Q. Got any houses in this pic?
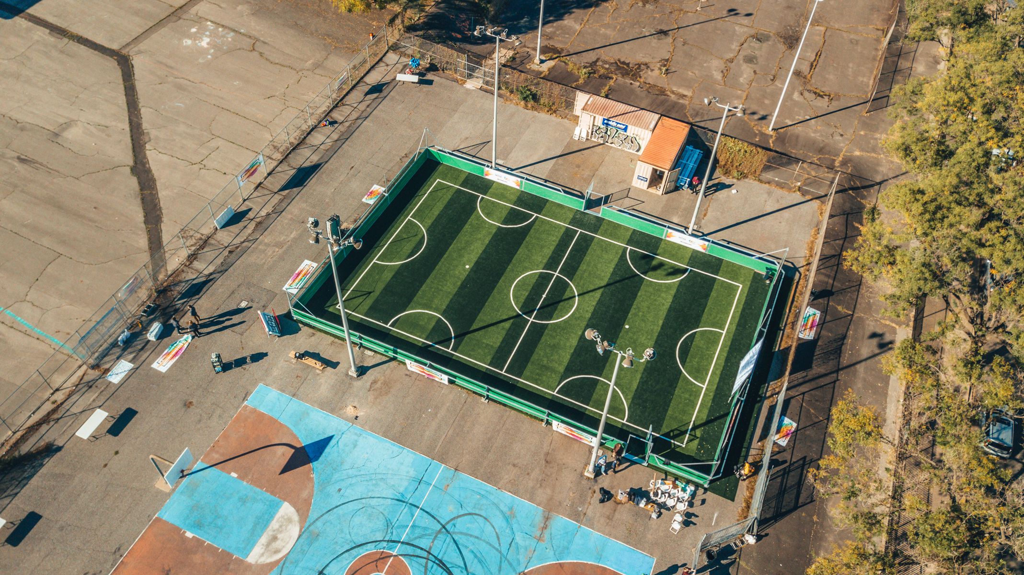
No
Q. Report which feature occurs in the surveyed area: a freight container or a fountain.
freight container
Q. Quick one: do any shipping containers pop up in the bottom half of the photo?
No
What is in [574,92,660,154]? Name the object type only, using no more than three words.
shipping container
